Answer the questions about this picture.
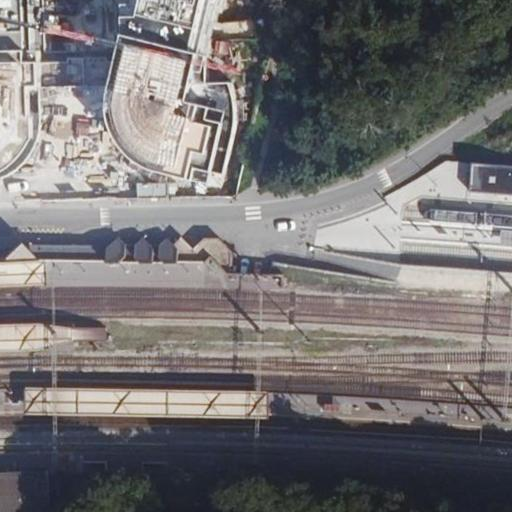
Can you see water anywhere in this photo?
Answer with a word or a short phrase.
No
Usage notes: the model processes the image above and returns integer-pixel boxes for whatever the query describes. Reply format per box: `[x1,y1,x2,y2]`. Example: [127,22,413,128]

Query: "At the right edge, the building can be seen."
[458,160,512,192]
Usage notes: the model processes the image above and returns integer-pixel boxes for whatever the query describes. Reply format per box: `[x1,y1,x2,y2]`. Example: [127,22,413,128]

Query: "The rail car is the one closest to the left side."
[420,208,477,222]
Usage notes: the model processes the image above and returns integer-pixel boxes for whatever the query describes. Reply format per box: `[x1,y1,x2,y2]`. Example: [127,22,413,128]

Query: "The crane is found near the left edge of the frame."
[0,5,110,39]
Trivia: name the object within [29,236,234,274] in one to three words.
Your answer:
building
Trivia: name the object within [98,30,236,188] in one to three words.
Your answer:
building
